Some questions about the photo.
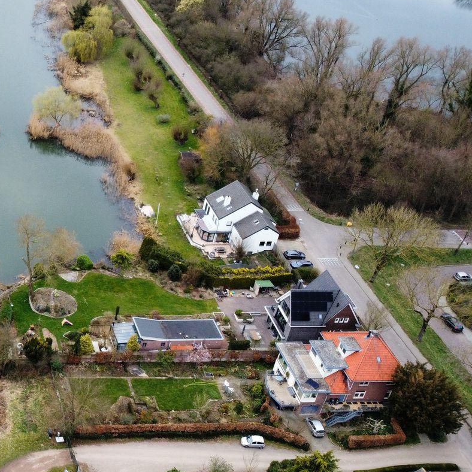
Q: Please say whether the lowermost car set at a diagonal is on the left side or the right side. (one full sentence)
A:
The lowermost car set at a diagonal sits on the right side.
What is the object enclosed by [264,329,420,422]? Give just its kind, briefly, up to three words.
house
